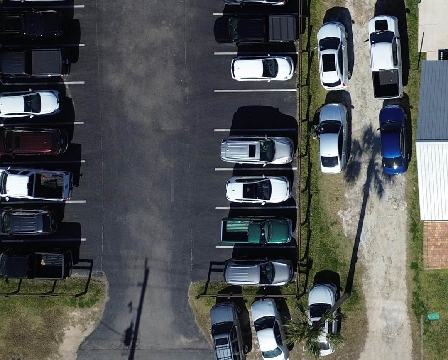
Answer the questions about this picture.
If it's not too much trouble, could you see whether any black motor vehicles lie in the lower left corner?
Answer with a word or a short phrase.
Yes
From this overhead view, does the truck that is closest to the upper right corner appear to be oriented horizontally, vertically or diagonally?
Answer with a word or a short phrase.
vertically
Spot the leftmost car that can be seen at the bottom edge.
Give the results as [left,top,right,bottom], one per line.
[208,300,248,360]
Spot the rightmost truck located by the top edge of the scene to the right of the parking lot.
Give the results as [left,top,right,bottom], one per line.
[366,14,405,100]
